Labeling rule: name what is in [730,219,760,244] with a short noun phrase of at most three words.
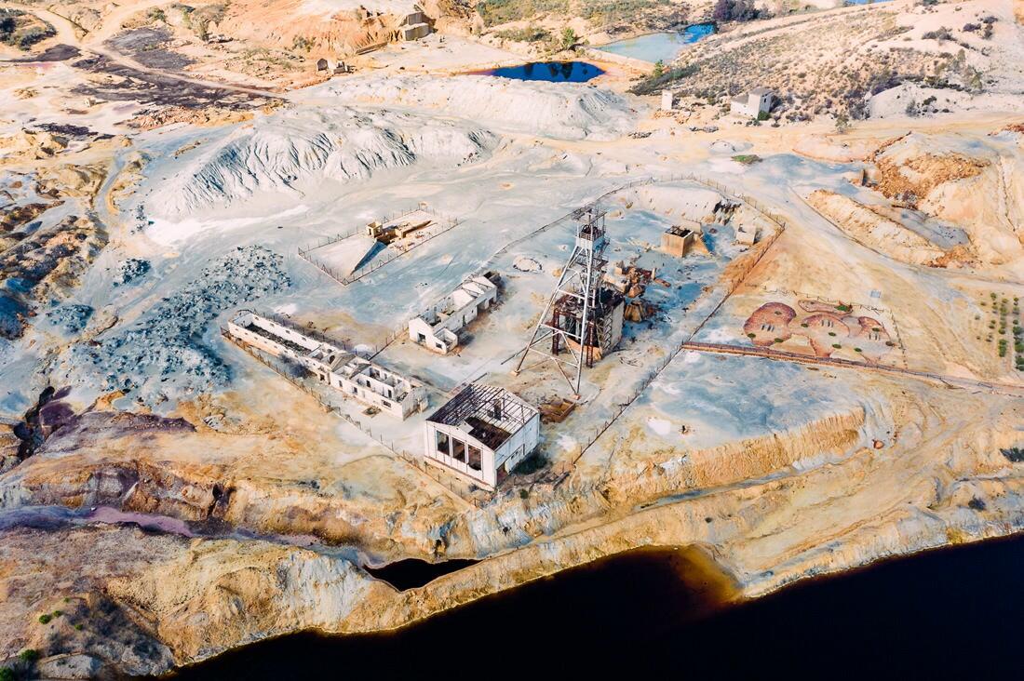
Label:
house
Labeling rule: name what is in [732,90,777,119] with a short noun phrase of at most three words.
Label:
house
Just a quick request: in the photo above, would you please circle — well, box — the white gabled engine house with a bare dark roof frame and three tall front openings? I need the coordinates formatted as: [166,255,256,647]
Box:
[422,380,539,491]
